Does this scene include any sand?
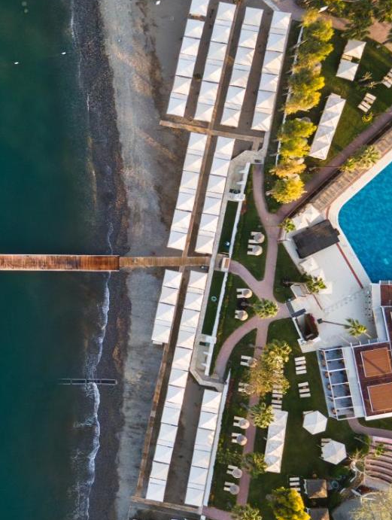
Yes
